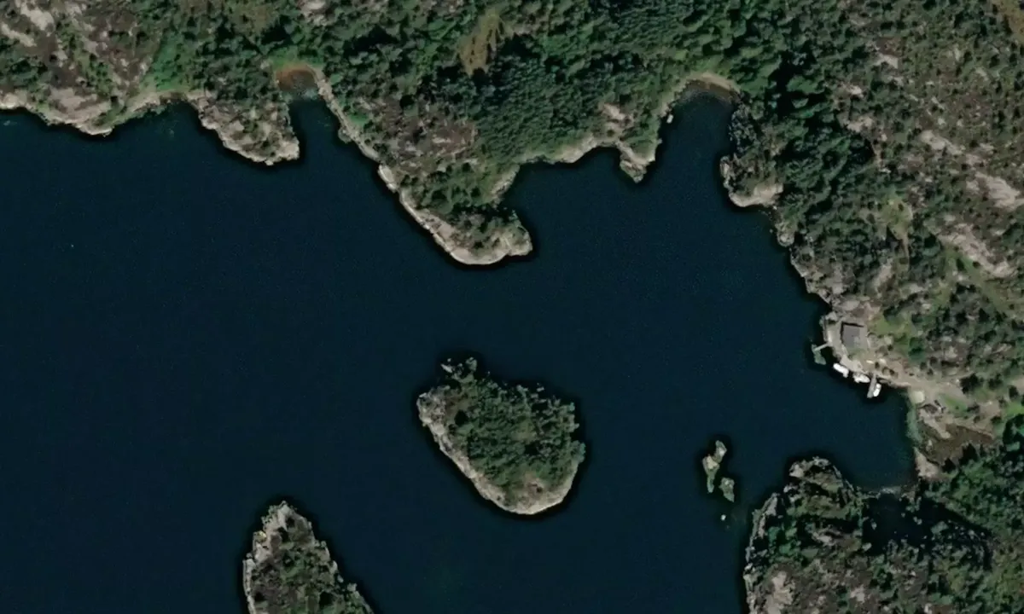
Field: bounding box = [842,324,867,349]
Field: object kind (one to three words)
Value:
house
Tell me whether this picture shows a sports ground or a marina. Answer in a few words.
marina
